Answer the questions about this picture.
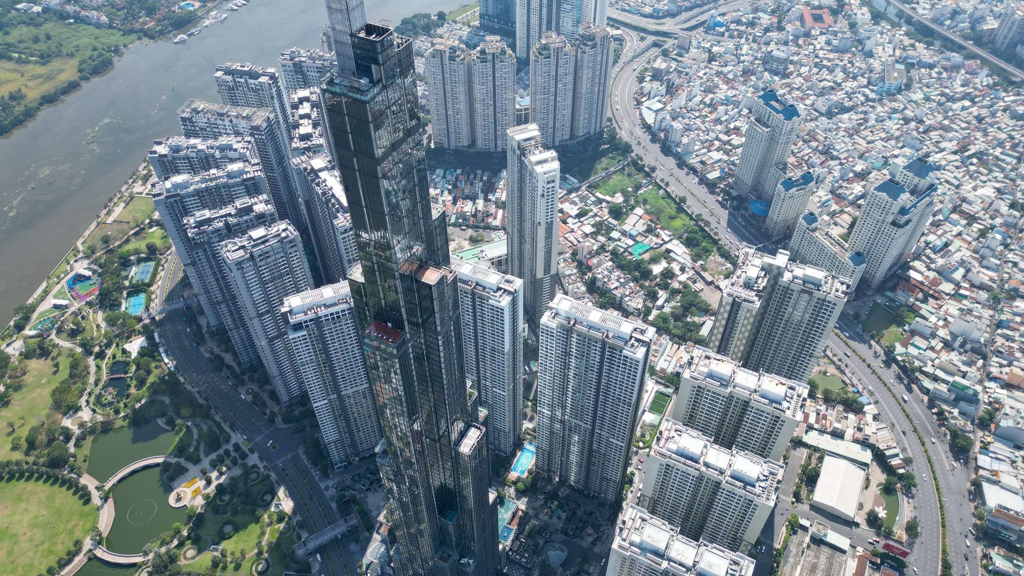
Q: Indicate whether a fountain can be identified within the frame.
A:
Yes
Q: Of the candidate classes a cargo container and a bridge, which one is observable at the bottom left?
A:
bridge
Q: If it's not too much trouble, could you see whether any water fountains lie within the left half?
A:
Yes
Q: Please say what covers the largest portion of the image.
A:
buildings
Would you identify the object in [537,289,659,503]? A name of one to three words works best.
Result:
building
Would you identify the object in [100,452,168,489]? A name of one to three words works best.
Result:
bridge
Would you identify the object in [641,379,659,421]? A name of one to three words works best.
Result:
building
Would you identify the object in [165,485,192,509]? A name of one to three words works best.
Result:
fountain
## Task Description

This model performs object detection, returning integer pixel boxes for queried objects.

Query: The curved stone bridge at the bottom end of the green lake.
[85,542,157,566]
